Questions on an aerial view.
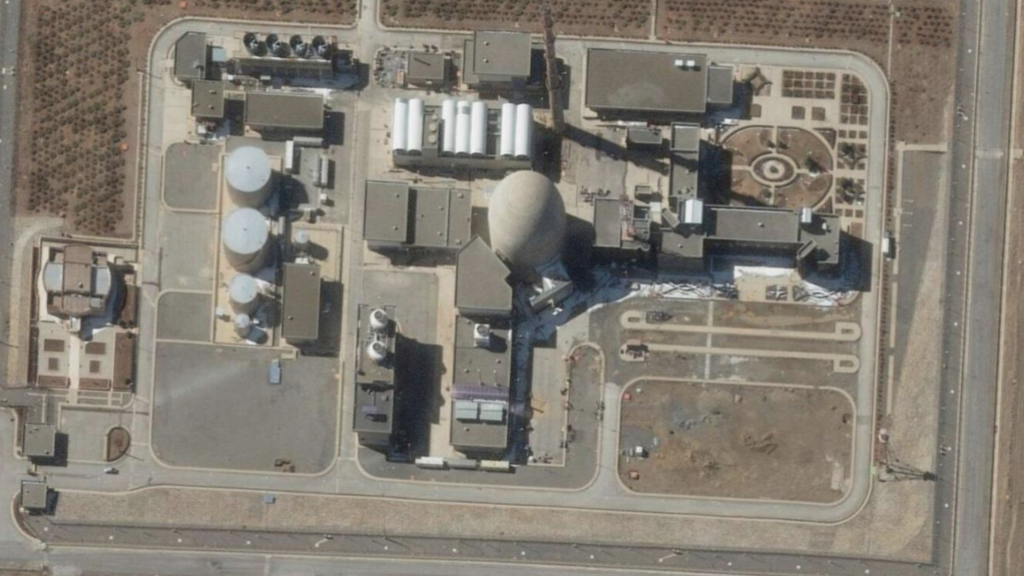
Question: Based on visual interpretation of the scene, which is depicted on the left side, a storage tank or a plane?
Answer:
storage tank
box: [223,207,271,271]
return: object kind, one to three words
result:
storage tank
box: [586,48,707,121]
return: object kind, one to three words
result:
building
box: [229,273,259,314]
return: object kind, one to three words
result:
storage tank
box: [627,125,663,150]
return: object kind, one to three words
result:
building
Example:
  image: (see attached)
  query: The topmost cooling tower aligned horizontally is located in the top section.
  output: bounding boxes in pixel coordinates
[233,32,353,77]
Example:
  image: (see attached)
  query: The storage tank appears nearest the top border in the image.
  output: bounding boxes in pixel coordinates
[226,145,274,209]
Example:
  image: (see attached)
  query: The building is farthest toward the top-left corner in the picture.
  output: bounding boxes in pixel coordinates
[174,31,207,85]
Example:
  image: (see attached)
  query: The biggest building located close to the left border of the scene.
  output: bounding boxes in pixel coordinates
[43,245,114,337]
